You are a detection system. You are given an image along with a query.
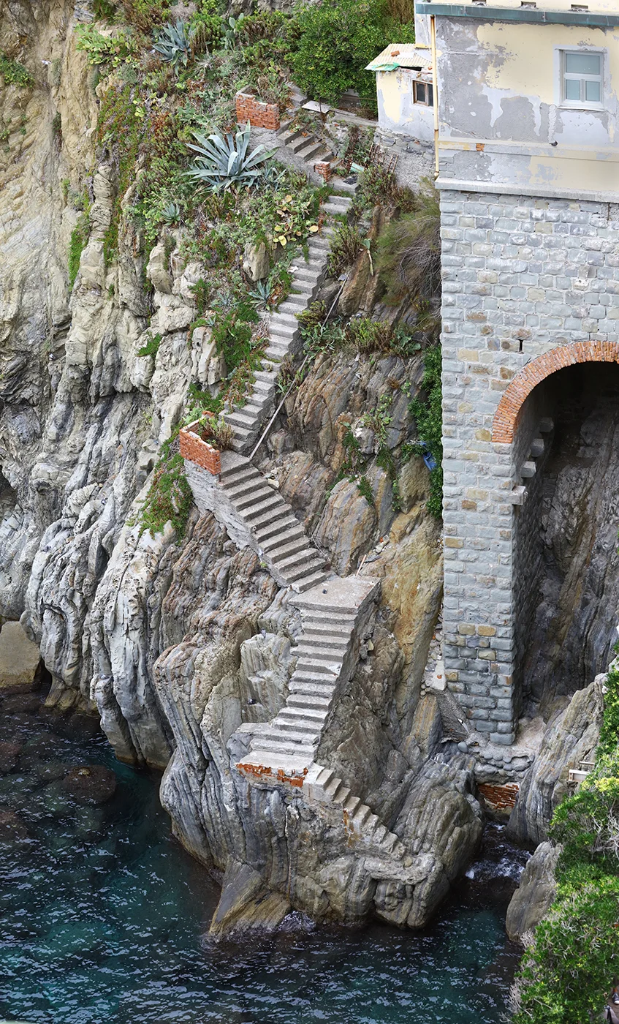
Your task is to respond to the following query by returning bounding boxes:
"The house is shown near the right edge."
[411,0,619,764]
